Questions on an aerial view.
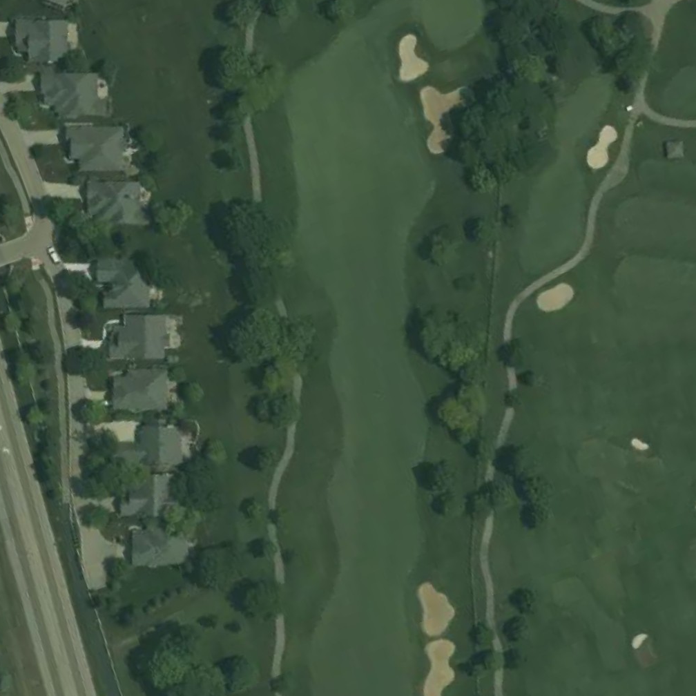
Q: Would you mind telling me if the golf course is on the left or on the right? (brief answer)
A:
right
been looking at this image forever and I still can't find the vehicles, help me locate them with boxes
[626,105,633,111]
[47,245,62,264]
